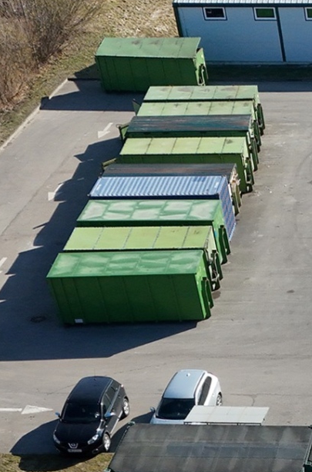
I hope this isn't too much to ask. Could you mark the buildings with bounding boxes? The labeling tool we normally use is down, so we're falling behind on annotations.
[171,0,312,61]
[103,410,312,472]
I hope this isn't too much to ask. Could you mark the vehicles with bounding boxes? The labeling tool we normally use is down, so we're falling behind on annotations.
[51,369,130,457]
[147,366,217,426]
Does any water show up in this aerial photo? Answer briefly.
No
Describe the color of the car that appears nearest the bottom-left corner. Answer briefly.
black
